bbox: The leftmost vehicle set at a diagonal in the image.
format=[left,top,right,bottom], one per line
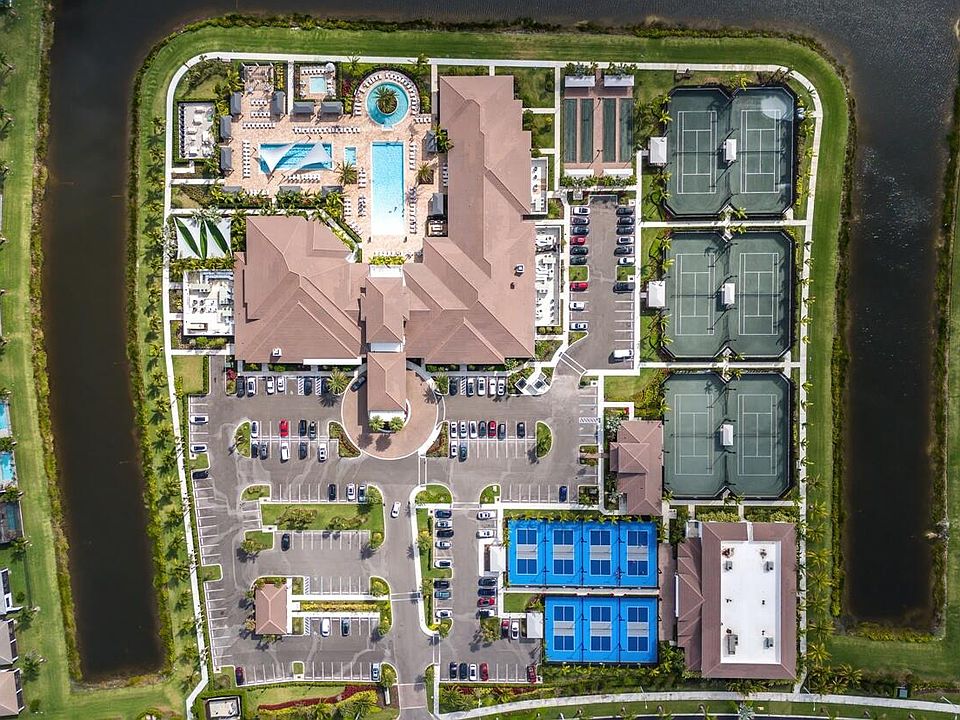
[350,376,367,391]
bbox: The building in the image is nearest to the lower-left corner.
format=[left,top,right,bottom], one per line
[0,665,32,716]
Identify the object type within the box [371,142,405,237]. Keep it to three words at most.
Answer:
swimming pool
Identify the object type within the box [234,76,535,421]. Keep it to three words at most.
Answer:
building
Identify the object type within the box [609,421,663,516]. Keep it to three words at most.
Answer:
building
